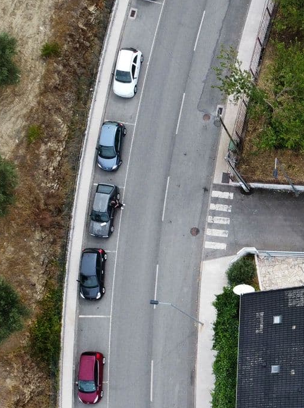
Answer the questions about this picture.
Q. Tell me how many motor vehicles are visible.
5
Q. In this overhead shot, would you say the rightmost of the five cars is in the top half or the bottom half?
top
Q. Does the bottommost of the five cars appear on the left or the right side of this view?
left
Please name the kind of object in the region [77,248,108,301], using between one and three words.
car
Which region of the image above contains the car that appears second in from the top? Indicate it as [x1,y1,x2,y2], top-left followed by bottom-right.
[95,122,128,172]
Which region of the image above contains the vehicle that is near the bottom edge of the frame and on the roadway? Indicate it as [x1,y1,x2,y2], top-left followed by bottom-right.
[75,352,106,403]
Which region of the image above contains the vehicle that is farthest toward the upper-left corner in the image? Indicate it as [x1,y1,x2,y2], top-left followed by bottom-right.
[112,49,144,99]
